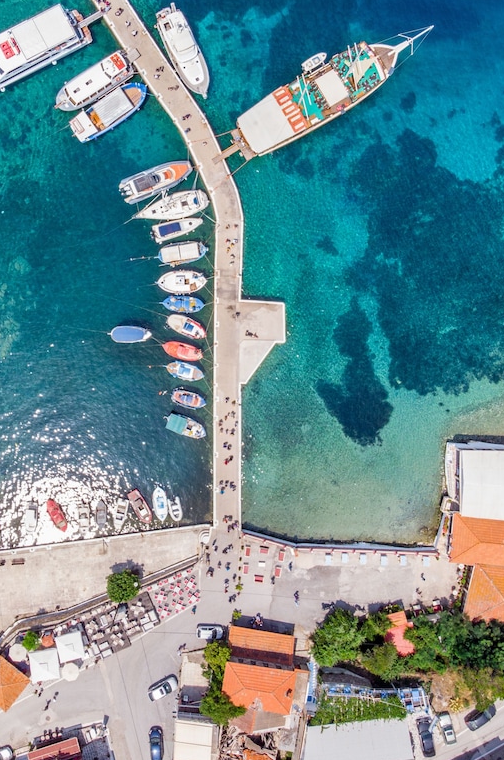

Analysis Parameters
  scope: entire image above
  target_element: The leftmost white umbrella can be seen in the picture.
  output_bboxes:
[10,642,27,659]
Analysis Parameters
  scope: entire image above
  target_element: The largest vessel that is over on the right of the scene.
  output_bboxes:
[231,25,434,160]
